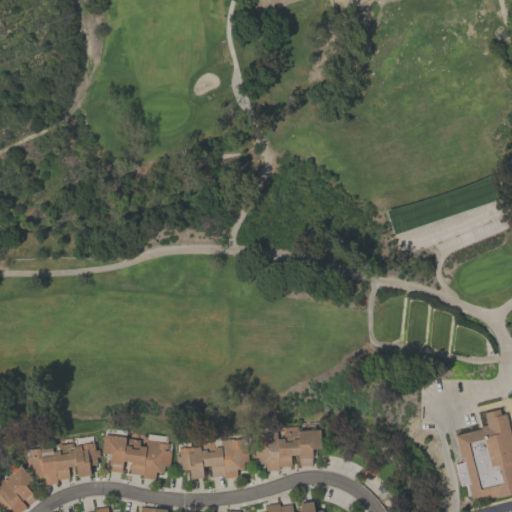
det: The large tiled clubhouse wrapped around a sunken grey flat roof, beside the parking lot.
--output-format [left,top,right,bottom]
[458,409,512,498]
